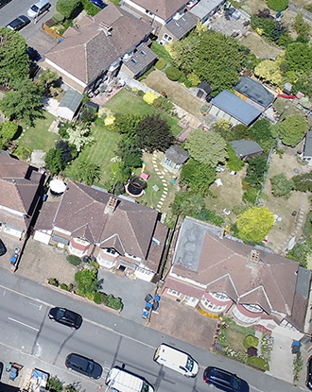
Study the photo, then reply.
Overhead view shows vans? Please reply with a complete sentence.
Yes, you can see a van in this photo.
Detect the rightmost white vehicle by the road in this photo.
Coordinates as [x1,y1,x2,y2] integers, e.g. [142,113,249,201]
[153,342,200,379]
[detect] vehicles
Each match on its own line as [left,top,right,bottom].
[24,44,46,64]
[201,365,249,392]
[65,353,103,380]
[27,0,53,19]
[0,243,7,257]
[104,365,154,392]
[96,0,111,13]
[305,352,312,392]
[4,14,32,33]
[153,342,200,379]
[46,307,84,331]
